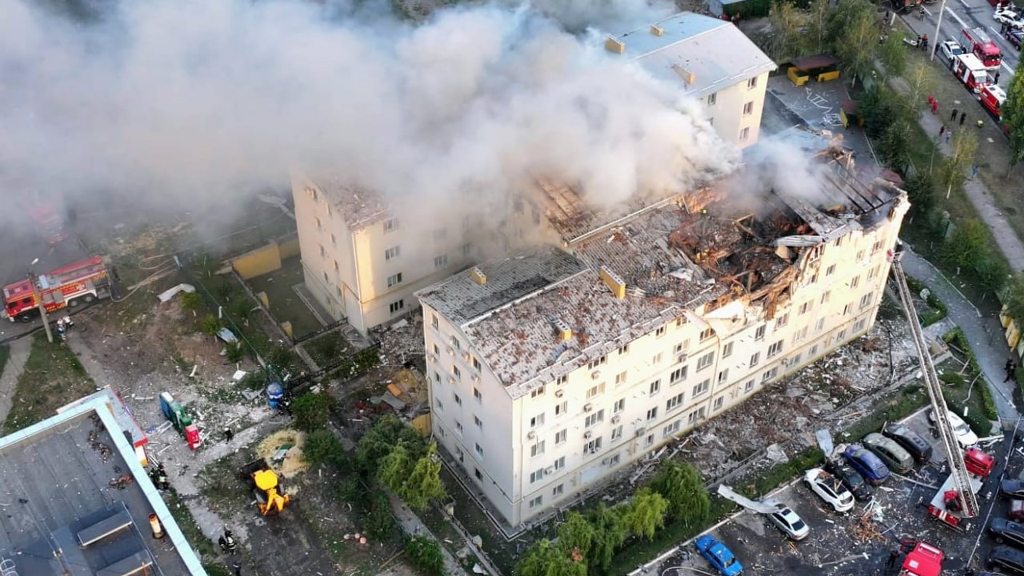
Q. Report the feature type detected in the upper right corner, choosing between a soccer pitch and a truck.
truck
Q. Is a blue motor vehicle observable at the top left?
No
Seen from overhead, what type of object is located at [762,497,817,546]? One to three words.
car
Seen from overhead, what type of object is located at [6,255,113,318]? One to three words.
truck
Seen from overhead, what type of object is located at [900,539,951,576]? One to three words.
truck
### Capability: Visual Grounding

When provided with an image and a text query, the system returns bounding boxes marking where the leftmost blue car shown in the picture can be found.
[692,532,747,576]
